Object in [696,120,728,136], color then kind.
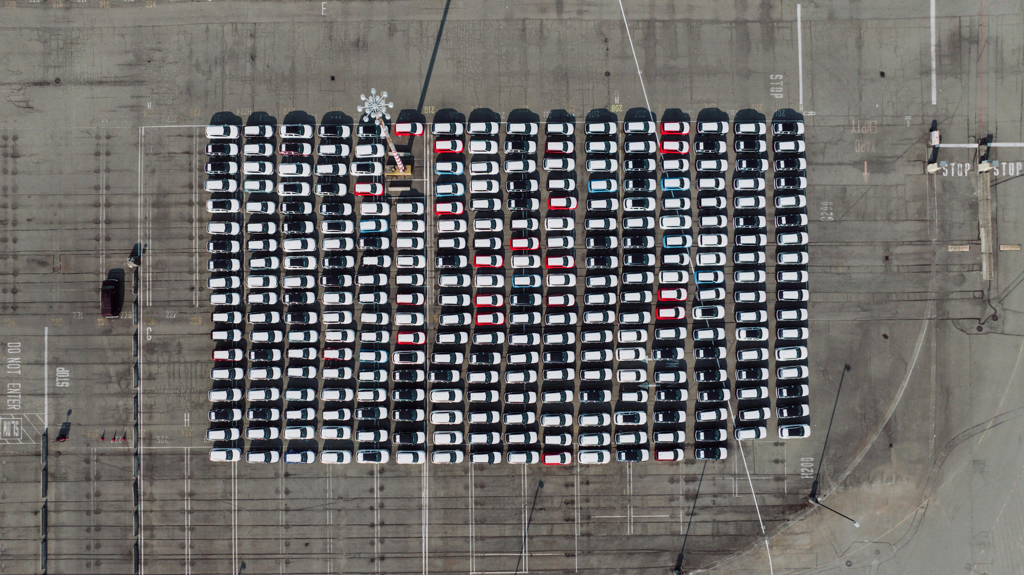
white car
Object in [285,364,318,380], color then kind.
white car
